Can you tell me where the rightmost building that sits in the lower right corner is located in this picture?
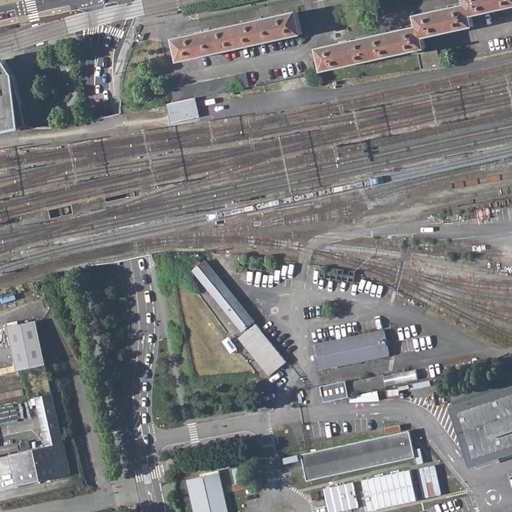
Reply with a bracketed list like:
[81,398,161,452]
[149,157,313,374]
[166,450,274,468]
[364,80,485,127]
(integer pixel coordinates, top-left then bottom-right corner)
[448,388,512,468]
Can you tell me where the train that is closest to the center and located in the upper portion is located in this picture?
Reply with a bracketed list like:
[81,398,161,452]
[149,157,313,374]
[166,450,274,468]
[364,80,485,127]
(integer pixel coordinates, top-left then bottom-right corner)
[208,179,385,218]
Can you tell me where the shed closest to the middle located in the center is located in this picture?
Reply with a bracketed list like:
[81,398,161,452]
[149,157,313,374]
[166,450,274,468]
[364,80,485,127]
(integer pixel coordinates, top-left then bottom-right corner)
[192,260,255,332]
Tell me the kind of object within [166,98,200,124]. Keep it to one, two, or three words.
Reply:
shed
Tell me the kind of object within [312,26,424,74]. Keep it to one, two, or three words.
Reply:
building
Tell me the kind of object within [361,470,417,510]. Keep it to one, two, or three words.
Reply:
building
